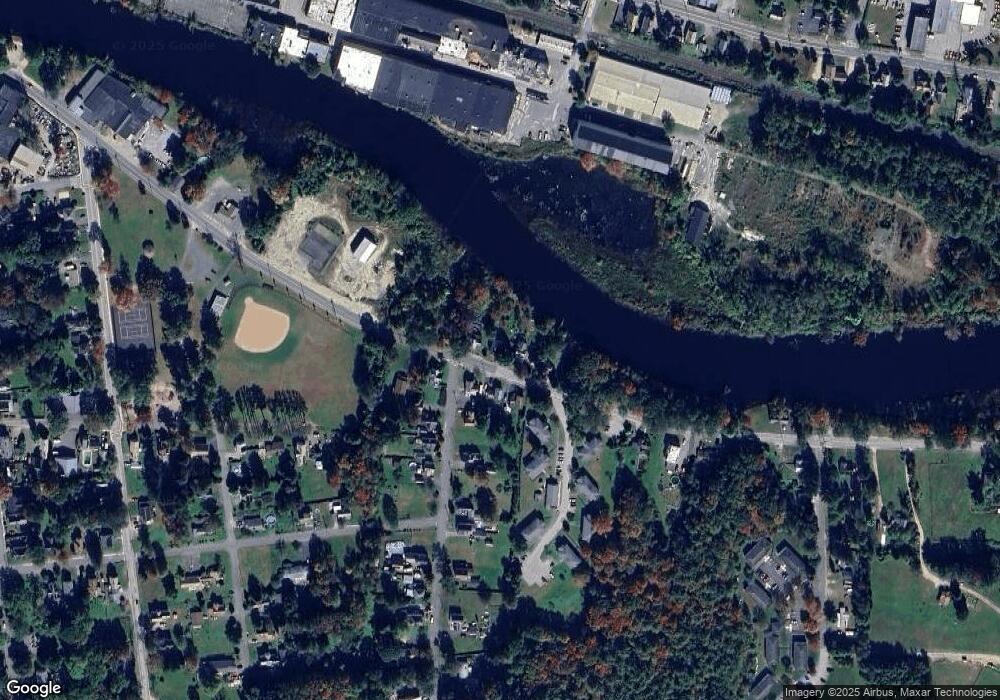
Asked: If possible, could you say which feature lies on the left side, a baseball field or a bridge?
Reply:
baseball field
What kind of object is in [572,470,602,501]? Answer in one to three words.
house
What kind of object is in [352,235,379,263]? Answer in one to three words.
shed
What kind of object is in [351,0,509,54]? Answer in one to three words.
building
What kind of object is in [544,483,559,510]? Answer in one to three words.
house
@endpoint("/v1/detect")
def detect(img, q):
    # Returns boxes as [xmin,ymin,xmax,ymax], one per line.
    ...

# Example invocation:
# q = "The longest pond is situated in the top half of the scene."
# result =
[482,155,654,253]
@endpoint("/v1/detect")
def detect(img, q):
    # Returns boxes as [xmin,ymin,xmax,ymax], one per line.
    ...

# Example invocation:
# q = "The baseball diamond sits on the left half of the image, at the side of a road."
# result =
[216,281,363,430]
